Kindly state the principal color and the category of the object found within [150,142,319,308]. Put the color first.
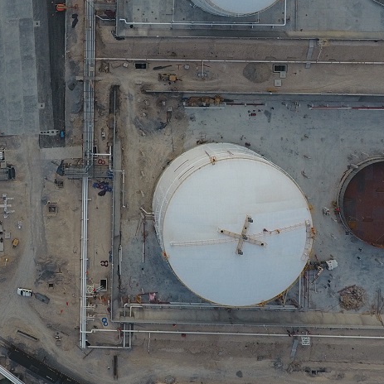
white storage tank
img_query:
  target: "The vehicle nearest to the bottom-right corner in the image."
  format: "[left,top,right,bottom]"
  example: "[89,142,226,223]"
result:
[315,259,339,286]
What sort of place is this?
industrial area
